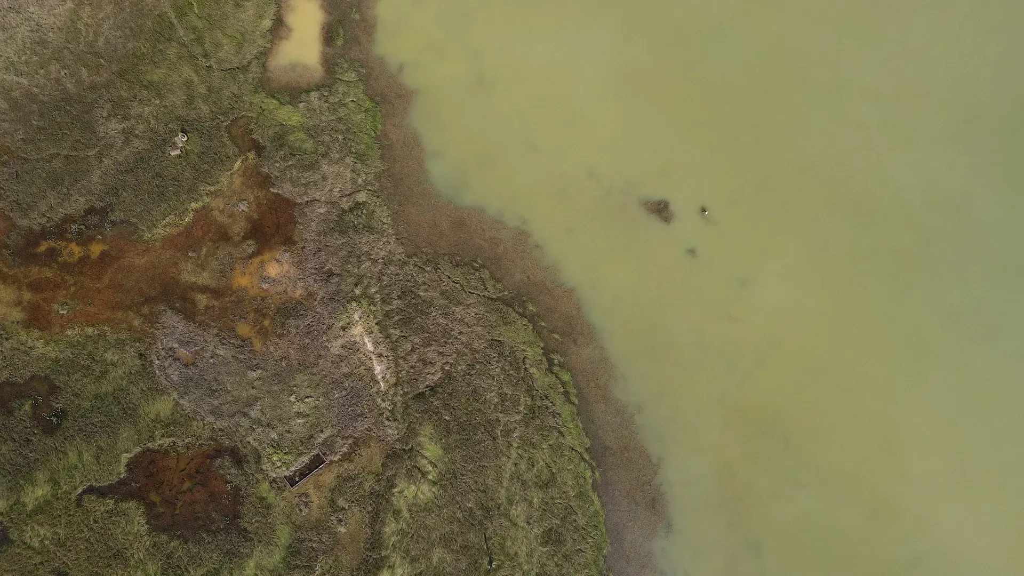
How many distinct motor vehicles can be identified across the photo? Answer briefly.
0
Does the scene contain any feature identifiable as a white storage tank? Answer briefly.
No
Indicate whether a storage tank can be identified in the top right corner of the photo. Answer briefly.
No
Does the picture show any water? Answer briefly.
Yes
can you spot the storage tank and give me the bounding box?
[286,452,326,490]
